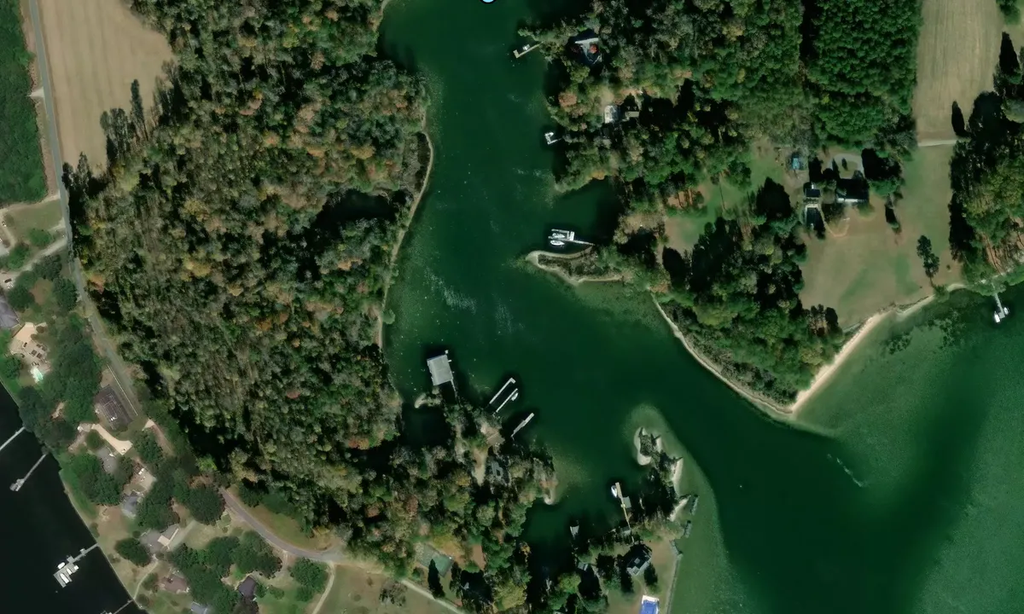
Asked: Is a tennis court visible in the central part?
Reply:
No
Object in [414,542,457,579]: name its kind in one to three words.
tennis court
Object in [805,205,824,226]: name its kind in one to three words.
swimming pool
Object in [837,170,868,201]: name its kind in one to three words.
house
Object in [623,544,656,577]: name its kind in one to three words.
house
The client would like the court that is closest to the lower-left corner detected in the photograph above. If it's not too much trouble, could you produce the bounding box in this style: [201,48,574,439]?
[92,387,134,436]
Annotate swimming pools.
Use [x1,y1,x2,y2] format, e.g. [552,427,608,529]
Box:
[30,367,43,382]
[805,205,824,226]
[639,596,659,614]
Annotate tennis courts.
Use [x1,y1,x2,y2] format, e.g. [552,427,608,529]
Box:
[414,542,457,579]
[92,387,134,436]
